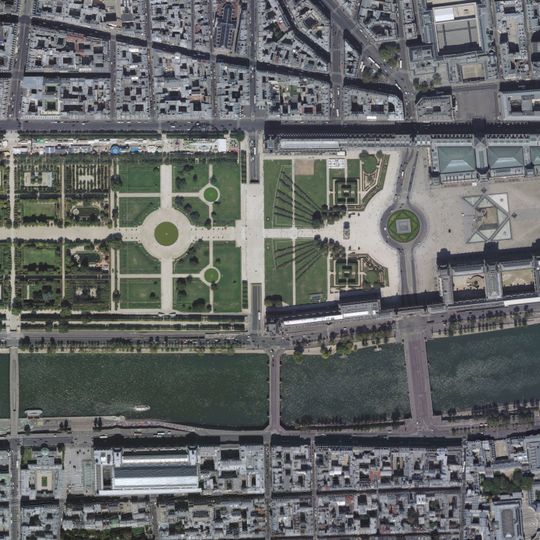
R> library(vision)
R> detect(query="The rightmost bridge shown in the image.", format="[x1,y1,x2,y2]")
[403,334,434,422]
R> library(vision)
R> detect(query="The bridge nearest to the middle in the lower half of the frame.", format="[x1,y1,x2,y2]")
[267,345,281,432]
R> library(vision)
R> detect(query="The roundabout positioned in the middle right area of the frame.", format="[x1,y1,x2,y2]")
[379,202,427,250]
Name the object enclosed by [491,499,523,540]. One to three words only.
building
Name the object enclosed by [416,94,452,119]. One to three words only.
building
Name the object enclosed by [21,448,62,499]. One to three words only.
house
